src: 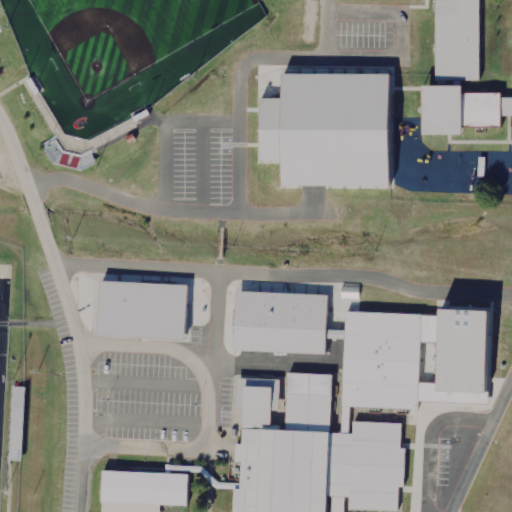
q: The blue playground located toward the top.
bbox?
[394,118,512,194]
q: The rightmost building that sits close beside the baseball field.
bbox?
[280,74,392,189]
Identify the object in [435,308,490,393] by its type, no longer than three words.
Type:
building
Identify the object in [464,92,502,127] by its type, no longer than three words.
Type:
house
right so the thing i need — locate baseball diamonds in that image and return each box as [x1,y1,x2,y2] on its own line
[0,0,266,140]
